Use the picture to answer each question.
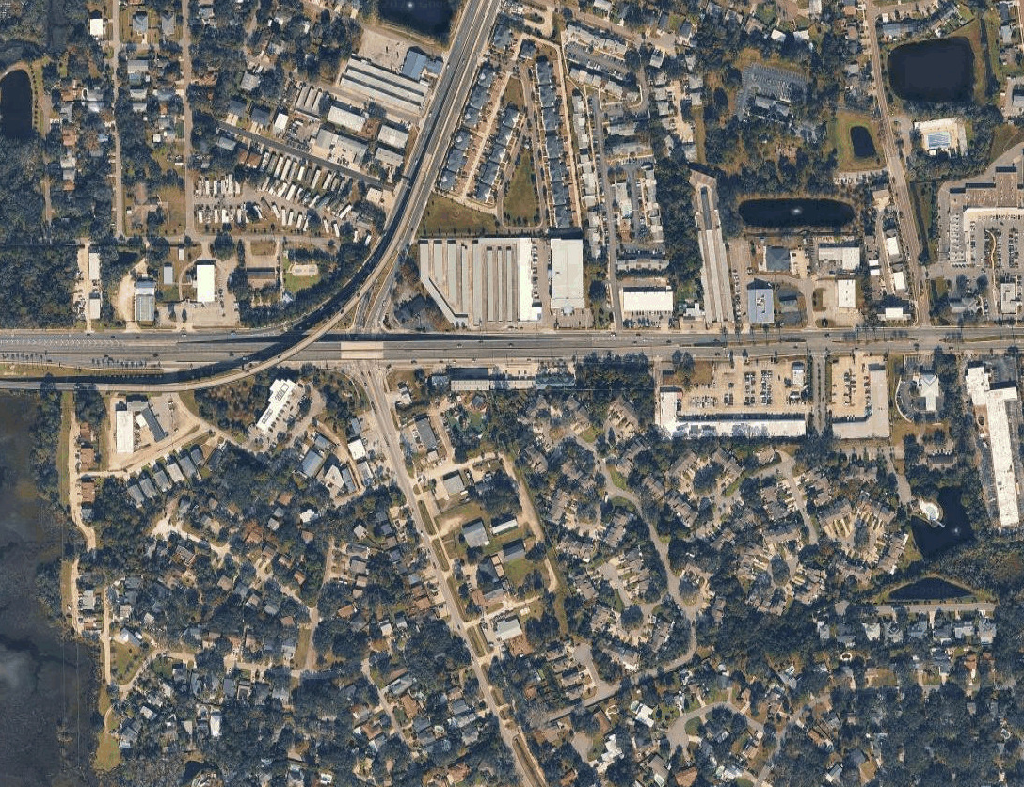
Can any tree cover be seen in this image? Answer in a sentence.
Yes, there's tree cover in this view.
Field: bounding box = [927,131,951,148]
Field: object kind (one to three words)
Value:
swimming pool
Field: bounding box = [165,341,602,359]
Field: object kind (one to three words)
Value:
overpass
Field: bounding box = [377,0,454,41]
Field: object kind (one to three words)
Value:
pond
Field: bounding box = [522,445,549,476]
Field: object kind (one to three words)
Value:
building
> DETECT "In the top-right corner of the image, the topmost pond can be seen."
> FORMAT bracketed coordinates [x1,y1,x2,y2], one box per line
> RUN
[888,35,974,103]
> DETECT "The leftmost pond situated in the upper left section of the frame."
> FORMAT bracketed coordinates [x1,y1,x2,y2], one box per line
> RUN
[0,71,32,143]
